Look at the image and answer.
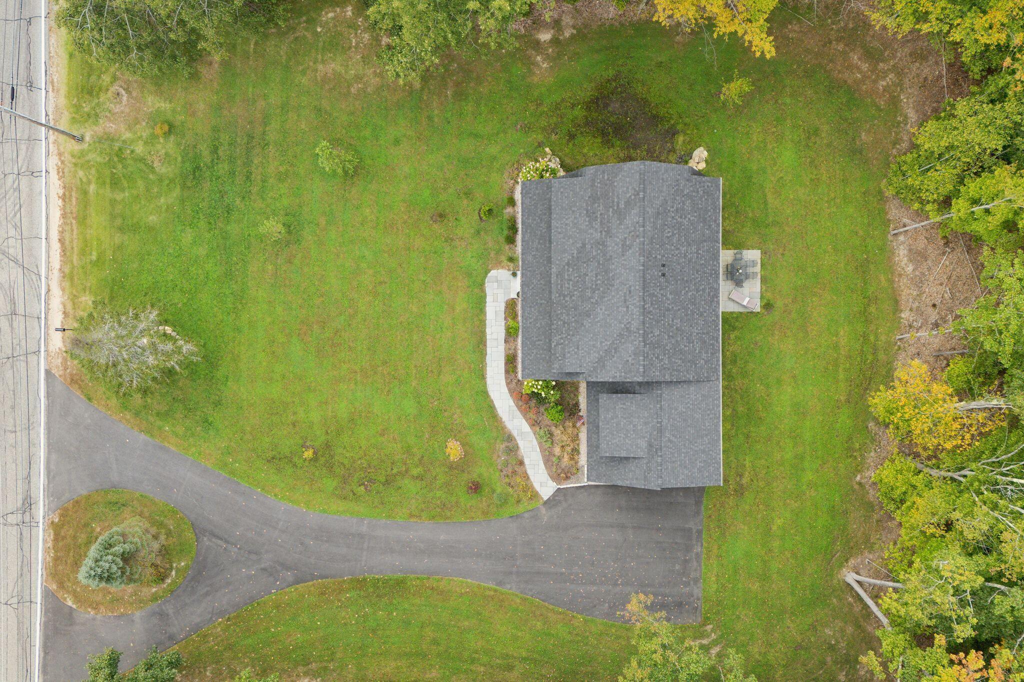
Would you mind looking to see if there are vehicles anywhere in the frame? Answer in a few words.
No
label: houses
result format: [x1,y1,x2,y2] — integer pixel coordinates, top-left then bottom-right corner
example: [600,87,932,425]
[518,162,722,489]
